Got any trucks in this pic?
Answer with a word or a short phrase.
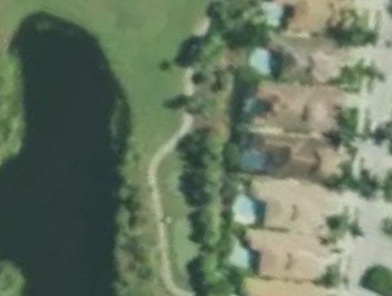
No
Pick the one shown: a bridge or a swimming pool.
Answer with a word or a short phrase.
swimming pool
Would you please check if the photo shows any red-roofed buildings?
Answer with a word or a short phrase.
No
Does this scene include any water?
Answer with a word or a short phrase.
Yes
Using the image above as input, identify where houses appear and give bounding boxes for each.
[251,132,345,179]
[267,35,352,85]
[244,278,334,296]
[246,176,335,234]
[243,229,331,280]
[274,0,354,38]
[255,83,349,134]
